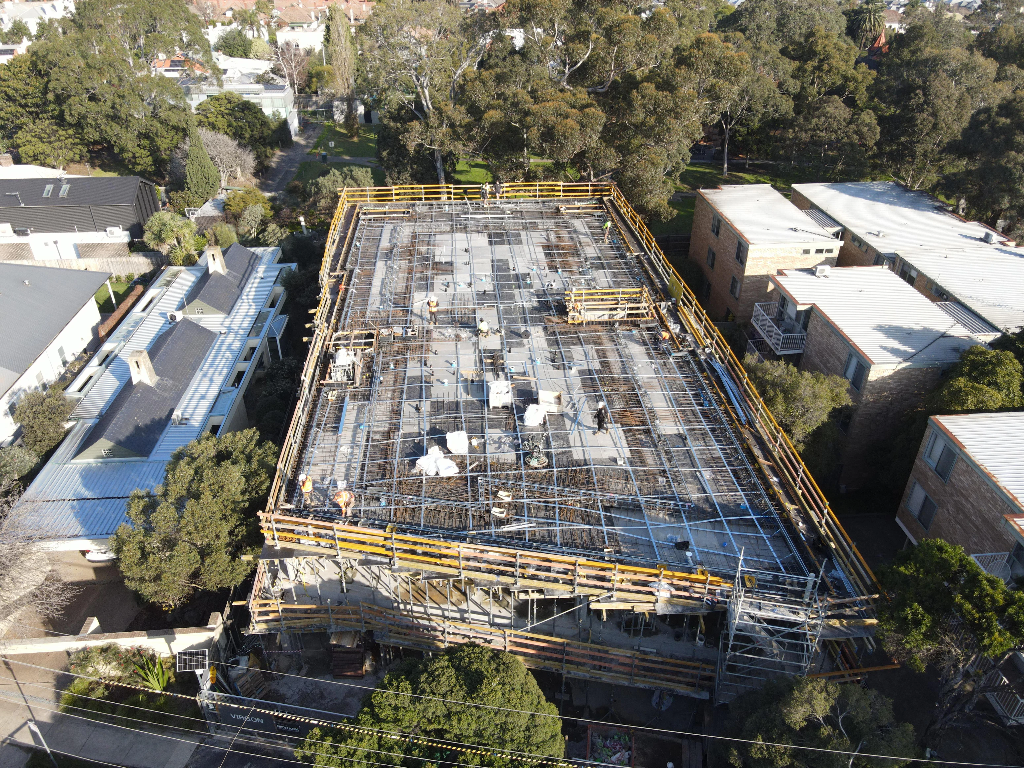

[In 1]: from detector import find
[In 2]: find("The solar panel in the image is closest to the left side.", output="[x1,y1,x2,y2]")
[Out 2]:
[175,647,210,707]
